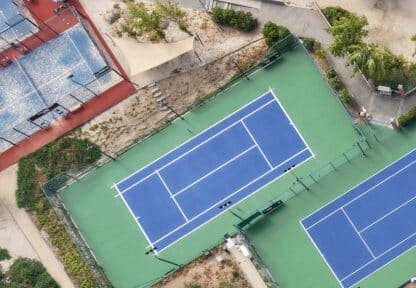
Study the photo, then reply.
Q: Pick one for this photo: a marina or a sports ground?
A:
sports ground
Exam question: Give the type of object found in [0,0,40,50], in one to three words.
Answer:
sports court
